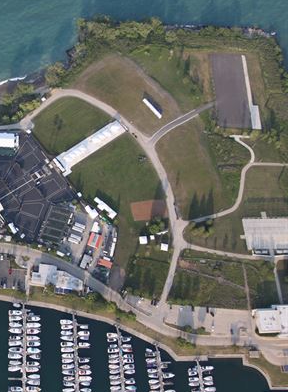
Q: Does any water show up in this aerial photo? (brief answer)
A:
Yes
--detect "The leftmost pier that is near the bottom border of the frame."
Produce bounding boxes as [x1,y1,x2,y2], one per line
[8,299,42,392]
